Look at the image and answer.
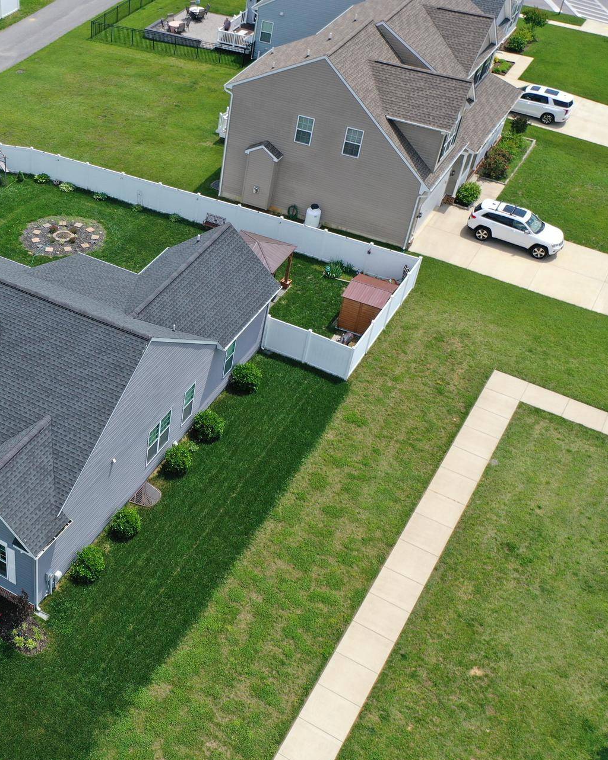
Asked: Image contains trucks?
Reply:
No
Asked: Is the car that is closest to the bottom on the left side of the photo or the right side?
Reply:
right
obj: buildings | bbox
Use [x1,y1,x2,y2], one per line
[218,0,537,253]
[0,221,285,617]
[335,276,395,337]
